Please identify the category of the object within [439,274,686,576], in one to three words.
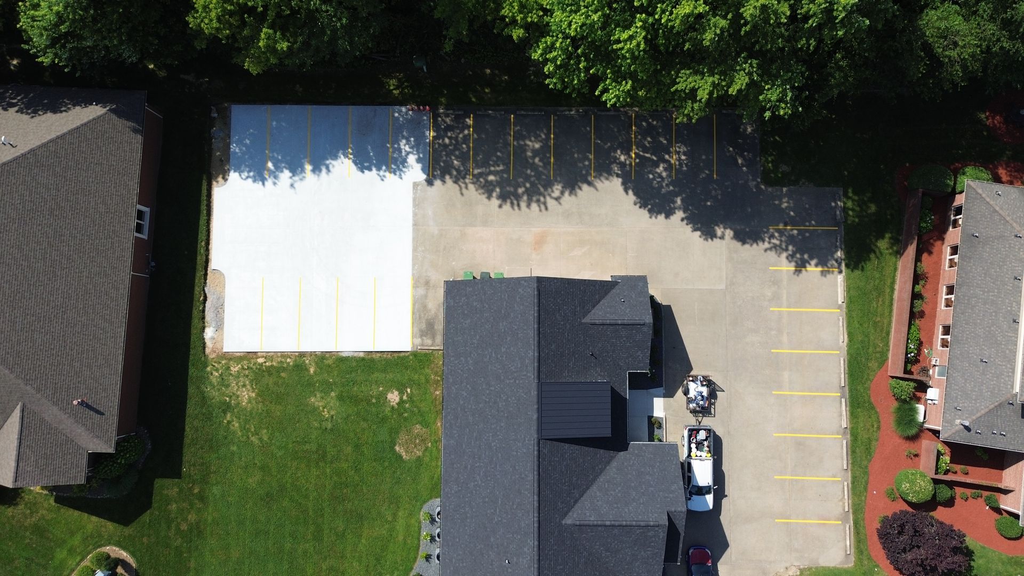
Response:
building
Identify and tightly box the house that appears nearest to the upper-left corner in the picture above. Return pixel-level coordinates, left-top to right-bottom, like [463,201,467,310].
[0,83,162,487]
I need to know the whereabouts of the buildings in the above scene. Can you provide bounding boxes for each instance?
[924,179,1024,526]
[0,83,162,487]
[439,274,686,576]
